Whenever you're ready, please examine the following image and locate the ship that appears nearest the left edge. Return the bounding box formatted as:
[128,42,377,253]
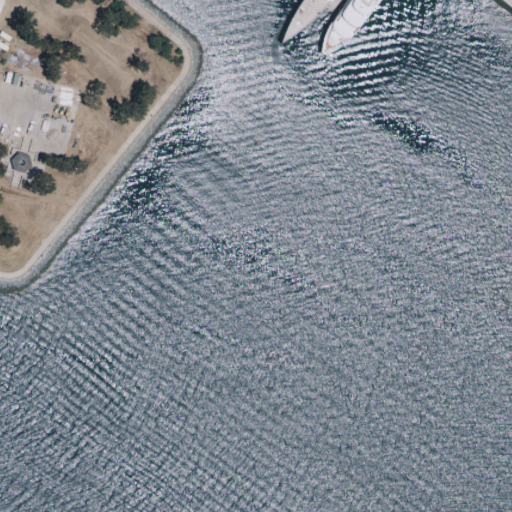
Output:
[282,0,336,42]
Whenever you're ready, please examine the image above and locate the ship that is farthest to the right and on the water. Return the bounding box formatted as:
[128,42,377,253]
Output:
[320,0,380,54]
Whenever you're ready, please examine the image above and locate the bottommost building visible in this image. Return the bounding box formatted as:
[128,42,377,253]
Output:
[12,152,32,172]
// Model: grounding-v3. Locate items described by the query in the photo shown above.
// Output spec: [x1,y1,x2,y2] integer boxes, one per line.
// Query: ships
[282,0,336,42]
[320,0,380,54]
